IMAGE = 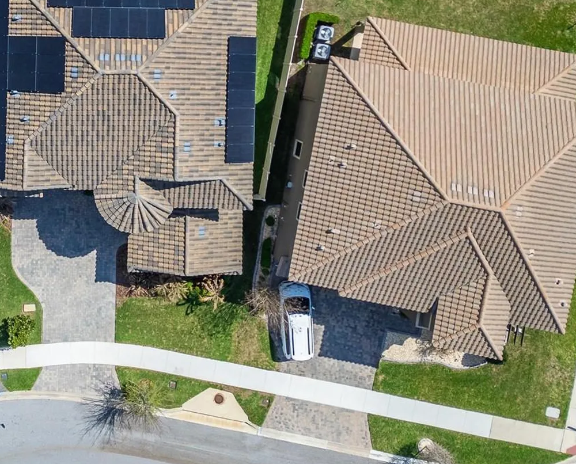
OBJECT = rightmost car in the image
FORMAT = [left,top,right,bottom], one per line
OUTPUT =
[277,278,319,365]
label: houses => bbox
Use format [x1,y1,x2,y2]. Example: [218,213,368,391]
[0,0,257,277]
[274,16,576,363]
